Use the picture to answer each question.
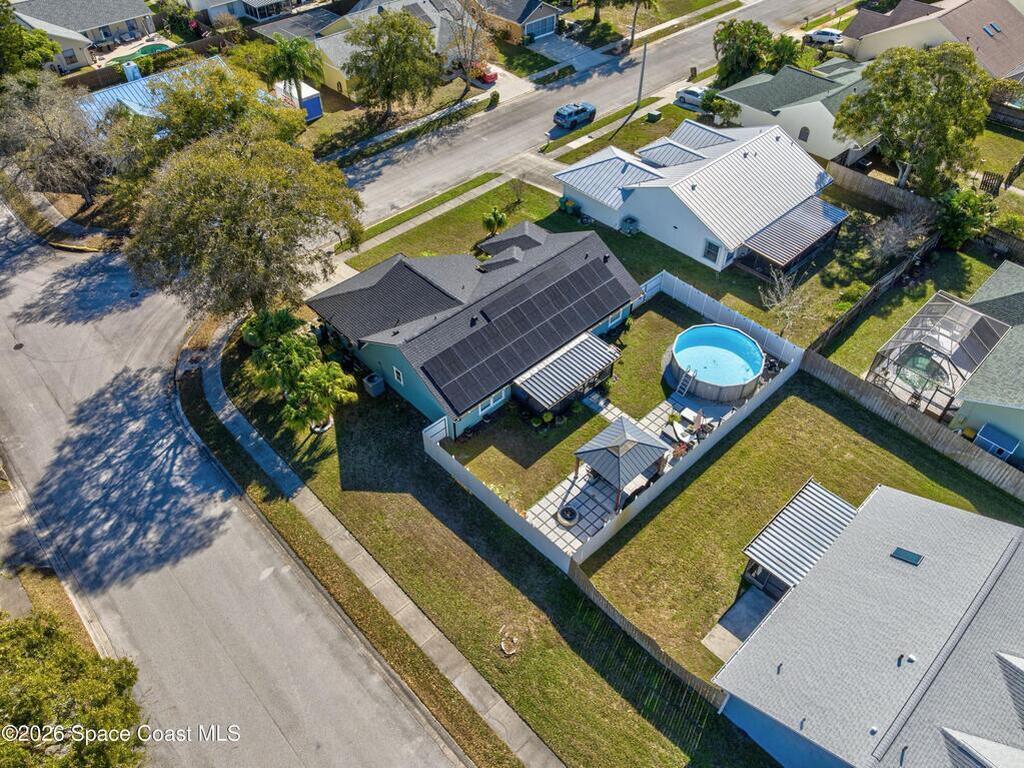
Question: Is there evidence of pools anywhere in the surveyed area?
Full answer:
Yes, a pool can be made out from above.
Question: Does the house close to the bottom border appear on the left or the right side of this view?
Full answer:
It is on the right.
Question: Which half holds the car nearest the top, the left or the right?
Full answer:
You can find the car nearest the top on the right side of the picture.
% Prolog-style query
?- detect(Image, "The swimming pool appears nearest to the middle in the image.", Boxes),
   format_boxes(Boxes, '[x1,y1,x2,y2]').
[670,324,765,399]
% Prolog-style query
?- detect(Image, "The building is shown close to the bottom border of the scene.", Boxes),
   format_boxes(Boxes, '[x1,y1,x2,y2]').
[709,483,1024,768]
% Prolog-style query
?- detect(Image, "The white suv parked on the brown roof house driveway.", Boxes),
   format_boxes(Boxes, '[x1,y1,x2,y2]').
[803,27,842,47]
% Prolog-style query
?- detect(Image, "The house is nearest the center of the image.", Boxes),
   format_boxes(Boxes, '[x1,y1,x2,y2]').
[306,221,642,440]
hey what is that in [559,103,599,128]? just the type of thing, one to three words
car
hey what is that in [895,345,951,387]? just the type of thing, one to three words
swimming pool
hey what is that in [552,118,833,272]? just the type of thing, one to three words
house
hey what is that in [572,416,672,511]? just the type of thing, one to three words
gazebo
